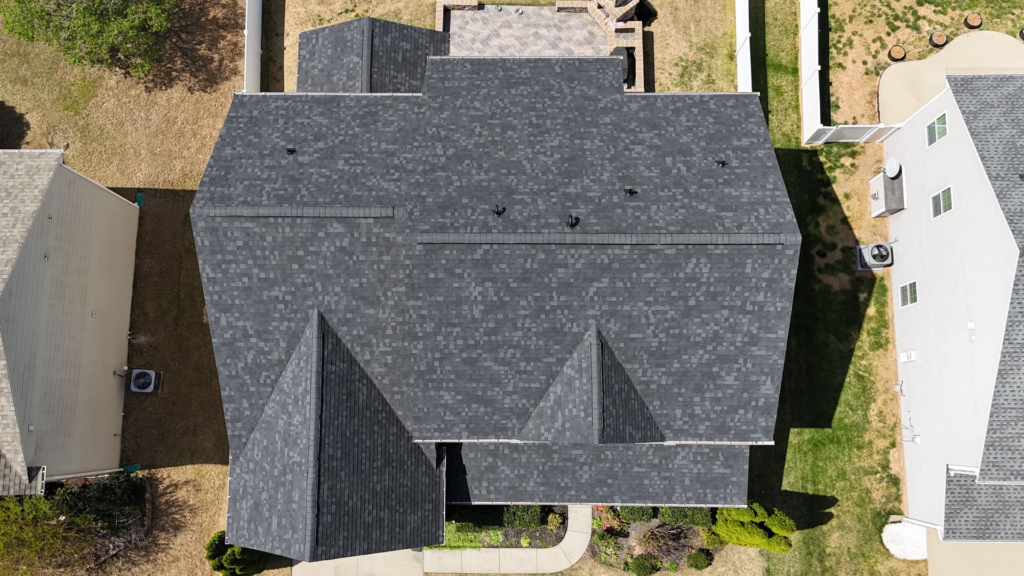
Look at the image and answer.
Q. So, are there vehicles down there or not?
No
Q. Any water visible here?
No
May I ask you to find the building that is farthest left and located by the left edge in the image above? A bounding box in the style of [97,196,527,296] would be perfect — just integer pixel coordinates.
[0,149,144,494]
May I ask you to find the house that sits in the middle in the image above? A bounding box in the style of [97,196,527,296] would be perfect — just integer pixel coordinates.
[191,17,801,561]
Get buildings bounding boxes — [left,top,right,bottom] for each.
[191,17,801,561]
[0,149,144,494]
[870,73,1024,543]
